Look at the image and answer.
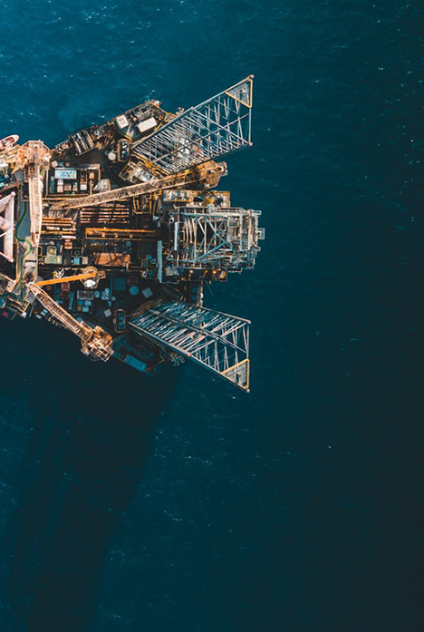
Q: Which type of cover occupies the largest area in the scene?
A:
water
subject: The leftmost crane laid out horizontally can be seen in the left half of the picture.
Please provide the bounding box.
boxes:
[34,268,97,287]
